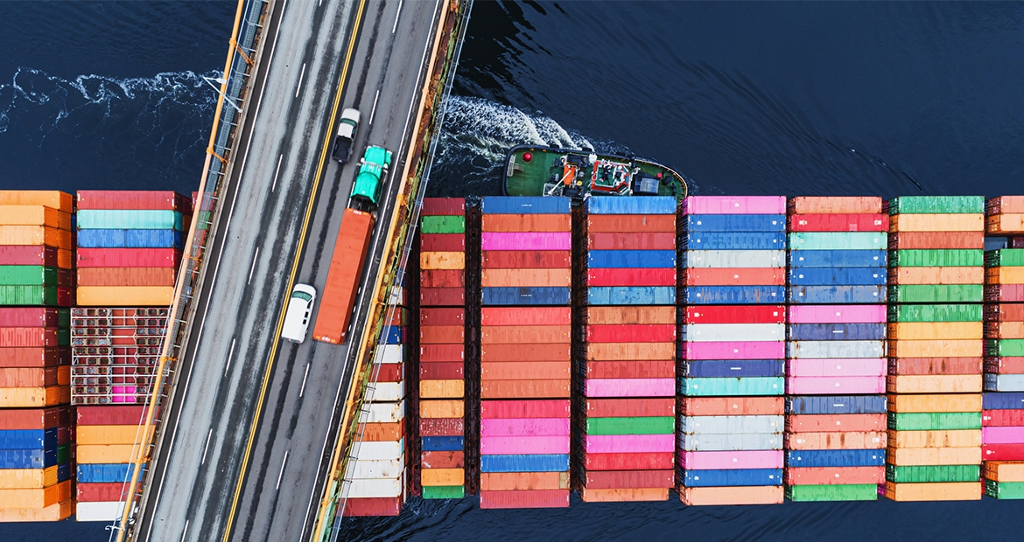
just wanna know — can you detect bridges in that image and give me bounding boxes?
[111,0,473,542]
